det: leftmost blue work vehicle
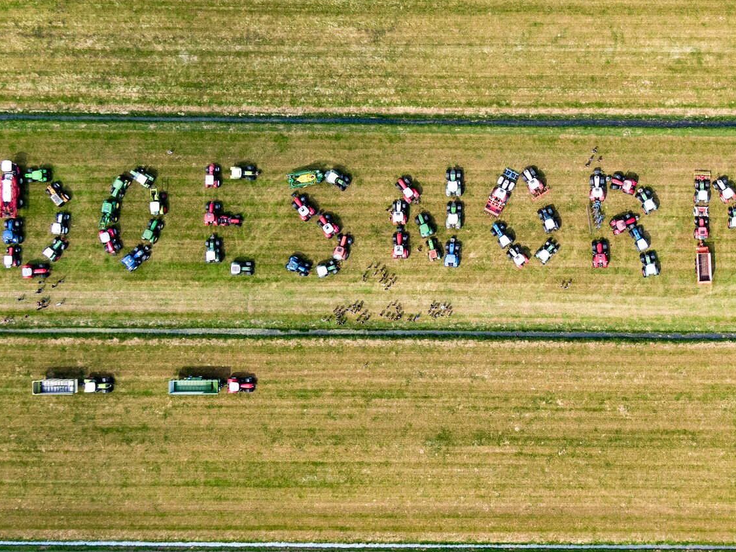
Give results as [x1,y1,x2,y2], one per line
[2,218,24,244]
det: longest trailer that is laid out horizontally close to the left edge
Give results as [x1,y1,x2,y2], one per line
[32,377,84,396]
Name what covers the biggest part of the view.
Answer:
grass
